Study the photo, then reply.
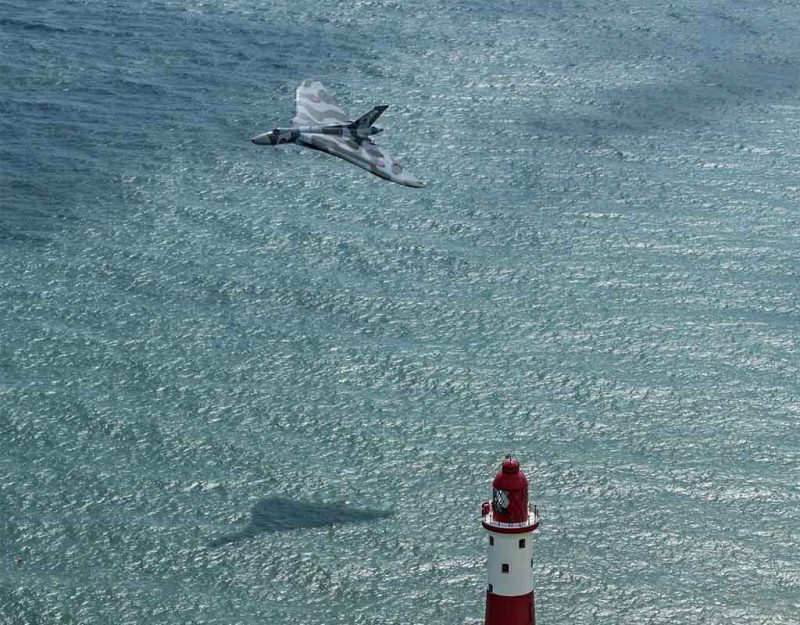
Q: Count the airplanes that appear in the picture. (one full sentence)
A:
I count just 1 airplane.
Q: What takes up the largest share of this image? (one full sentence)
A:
The bulk of the photo consists of water.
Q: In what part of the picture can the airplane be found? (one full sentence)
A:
The airplane appears toward the top of the photo.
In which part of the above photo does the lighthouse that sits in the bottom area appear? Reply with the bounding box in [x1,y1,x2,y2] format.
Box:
[481,454,539,625]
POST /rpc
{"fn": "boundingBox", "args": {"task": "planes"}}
[252,80,427,187]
